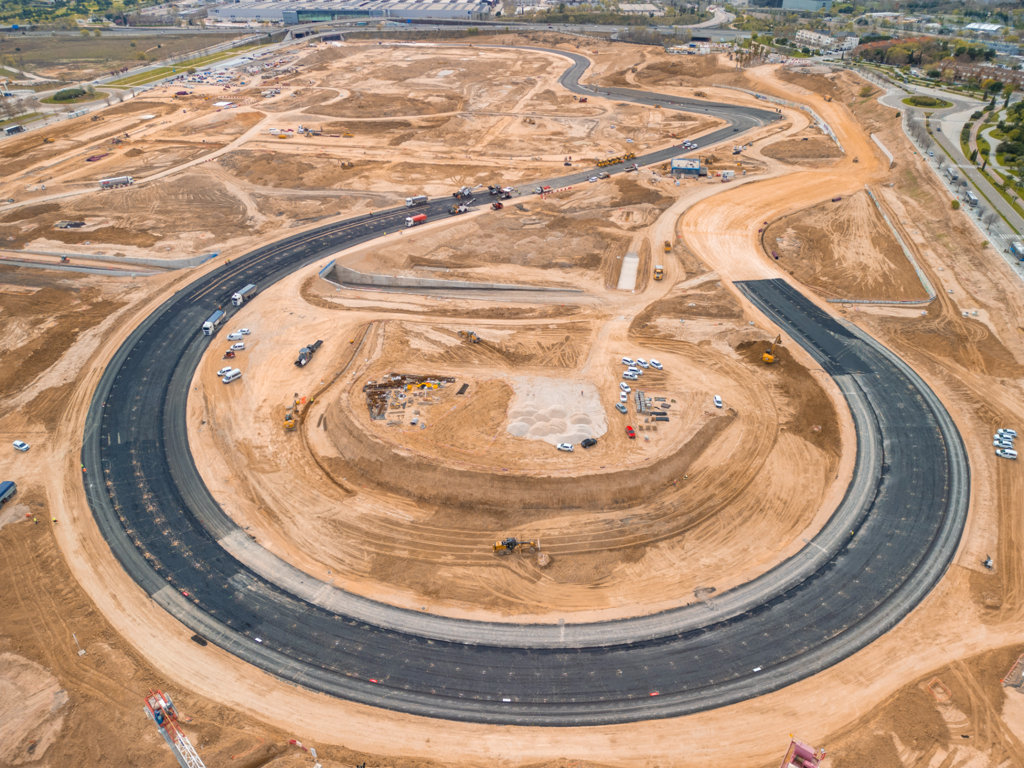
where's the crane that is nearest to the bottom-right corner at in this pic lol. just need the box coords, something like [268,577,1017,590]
[777,732,828,768]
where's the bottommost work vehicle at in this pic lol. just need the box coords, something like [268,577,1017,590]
[494,534,538,555]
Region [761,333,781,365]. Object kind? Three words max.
work vehicle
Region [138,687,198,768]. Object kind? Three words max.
crane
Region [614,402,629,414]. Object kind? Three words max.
vehicle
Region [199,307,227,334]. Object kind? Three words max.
truck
